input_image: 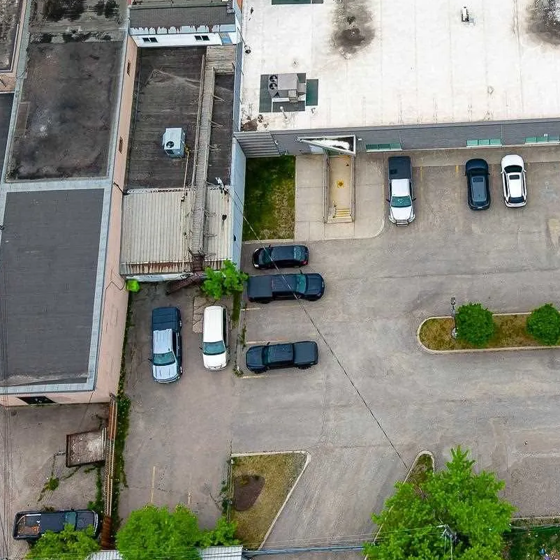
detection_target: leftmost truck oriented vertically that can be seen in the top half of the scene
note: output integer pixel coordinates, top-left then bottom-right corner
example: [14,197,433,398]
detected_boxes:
[386,157,415,227]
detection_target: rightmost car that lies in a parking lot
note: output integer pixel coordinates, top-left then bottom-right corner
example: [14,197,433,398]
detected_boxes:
[499,155,528,210]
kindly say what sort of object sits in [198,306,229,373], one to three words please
car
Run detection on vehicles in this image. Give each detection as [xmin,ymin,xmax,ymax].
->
[463,159,492,214]
[245,341,320,372]
[198,306,229,373]
[253,243,310,272]
[247,272,325,305]
[386,157,415,227]
[499,155,528,210]
[148,306,183,384]
[12,507,100,541]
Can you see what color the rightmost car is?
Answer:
white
